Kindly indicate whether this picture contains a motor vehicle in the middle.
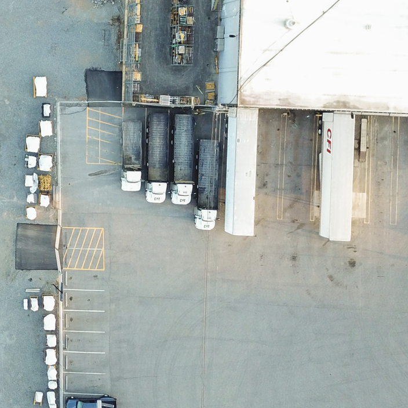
Yes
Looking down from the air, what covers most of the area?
paved ground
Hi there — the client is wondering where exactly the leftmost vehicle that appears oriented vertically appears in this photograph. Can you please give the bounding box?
[116,121,144,191]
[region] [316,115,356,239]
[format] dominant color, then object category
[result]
white trailer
